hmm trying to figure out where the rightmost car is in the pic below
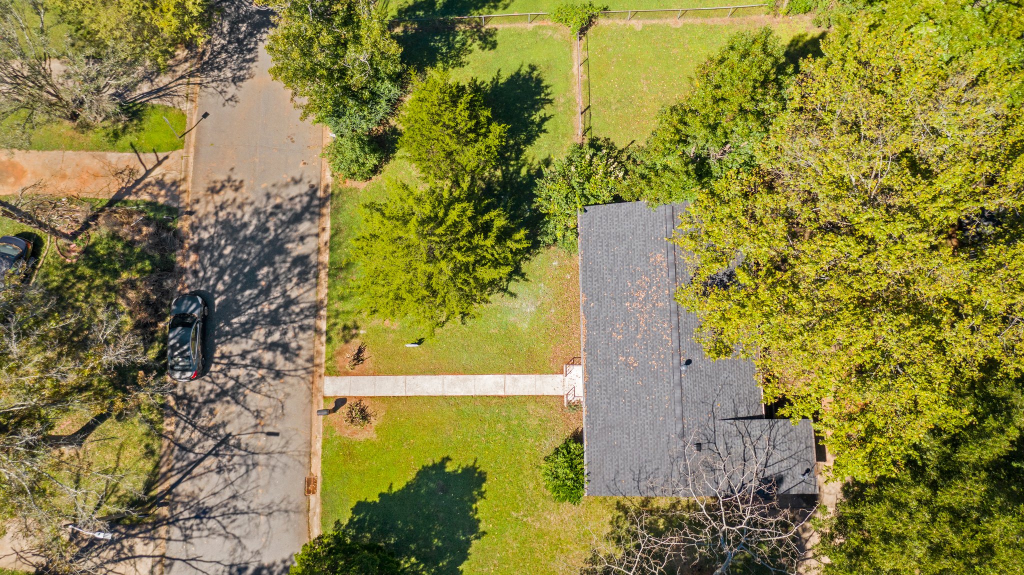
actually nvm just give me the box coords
[165,294,211,383]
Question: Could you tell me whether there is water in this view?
No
